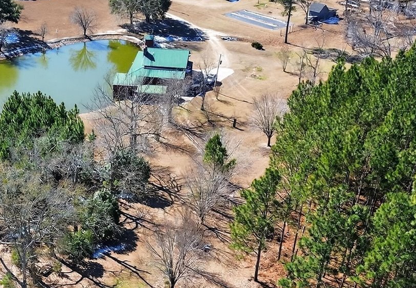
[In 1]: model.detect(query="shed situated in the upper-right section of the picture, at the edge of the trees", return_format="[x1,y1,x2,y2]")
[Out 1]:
[310,4,337,22]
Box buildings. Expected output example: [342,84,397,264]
[310,4,337,22]
[104,39,196,96]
